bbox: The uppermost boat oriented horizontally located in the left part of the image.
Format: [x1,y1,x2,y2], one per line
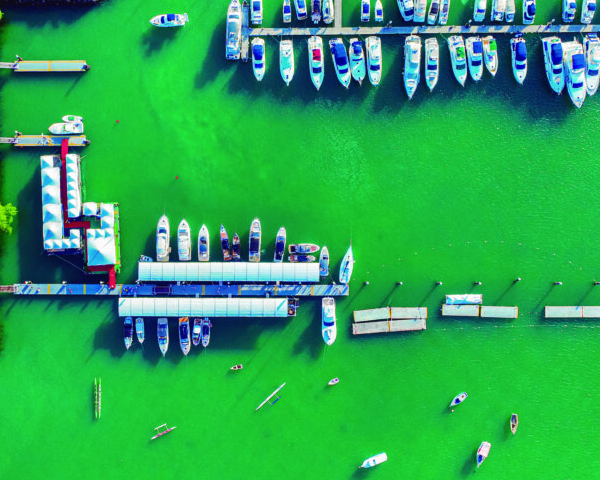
[149,13,189,26]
